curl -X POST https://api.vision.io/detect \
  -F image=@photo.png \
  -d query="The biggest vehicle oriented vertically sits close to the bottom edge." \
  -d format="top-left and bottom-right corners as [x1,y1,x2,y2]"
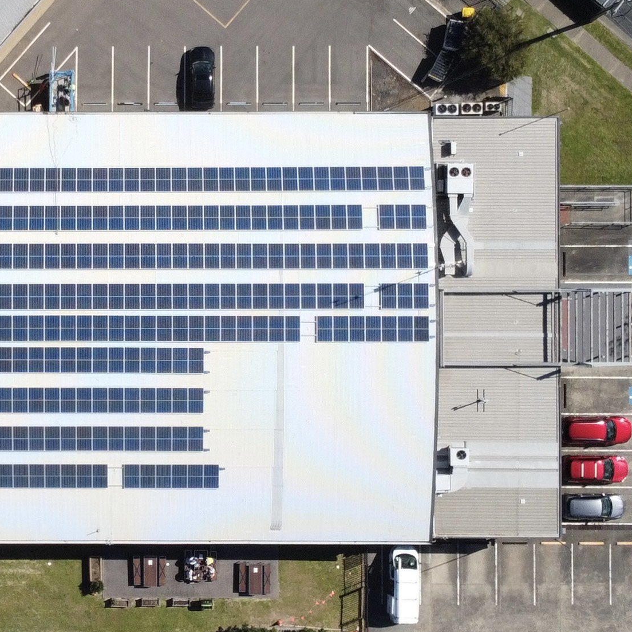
[386,544,421,623]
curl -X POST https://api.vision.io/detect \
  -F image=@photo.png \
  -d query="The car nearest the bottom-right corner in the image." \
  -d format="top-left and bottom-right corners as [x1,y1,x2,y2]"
[562,493,622,522]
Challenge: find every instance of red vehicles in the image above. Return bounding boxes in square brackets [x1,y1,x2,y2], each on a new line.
[562,454,627,484]
[562,416,630,447]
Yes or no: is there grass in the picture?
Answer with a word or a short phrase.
Yes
